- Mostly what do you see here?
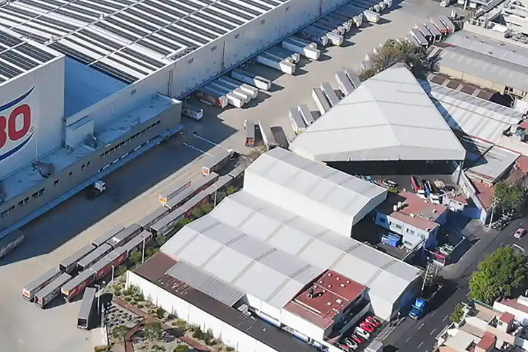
buildings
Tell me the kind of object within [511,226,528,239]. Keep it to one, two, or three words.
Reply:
vehicle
